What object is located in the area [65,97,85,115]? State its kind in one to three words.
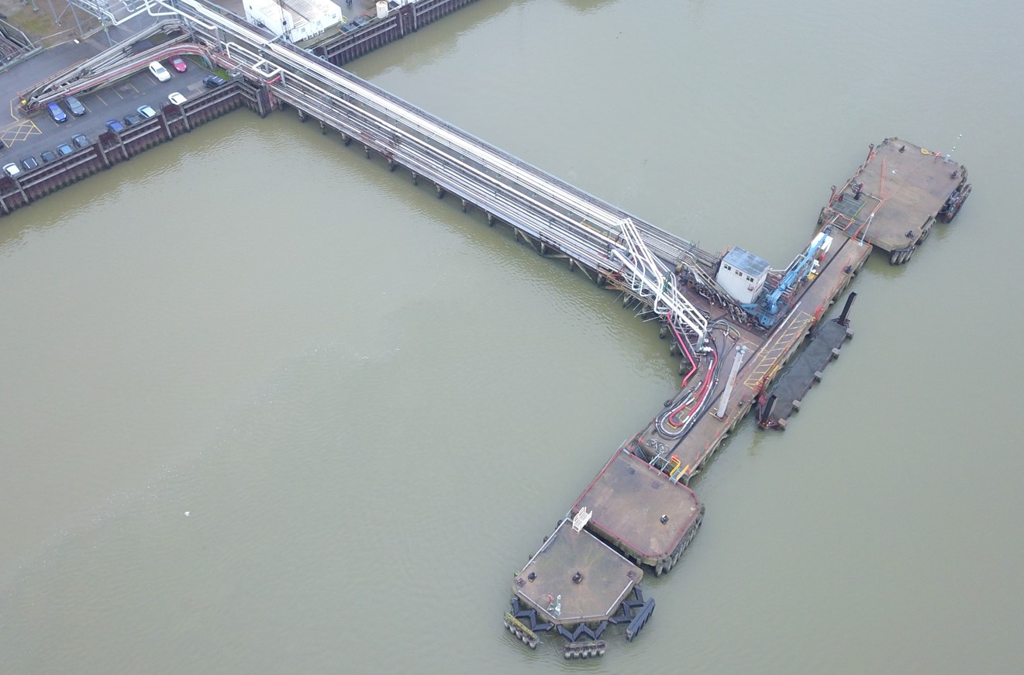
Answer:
car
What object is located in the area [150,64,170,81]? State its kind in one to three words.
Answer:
car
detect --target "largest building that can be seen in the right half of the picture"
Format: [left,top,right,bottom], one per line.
[717,246,772,302]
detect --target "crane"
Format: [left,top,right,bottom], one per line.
[741,226,833,330]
